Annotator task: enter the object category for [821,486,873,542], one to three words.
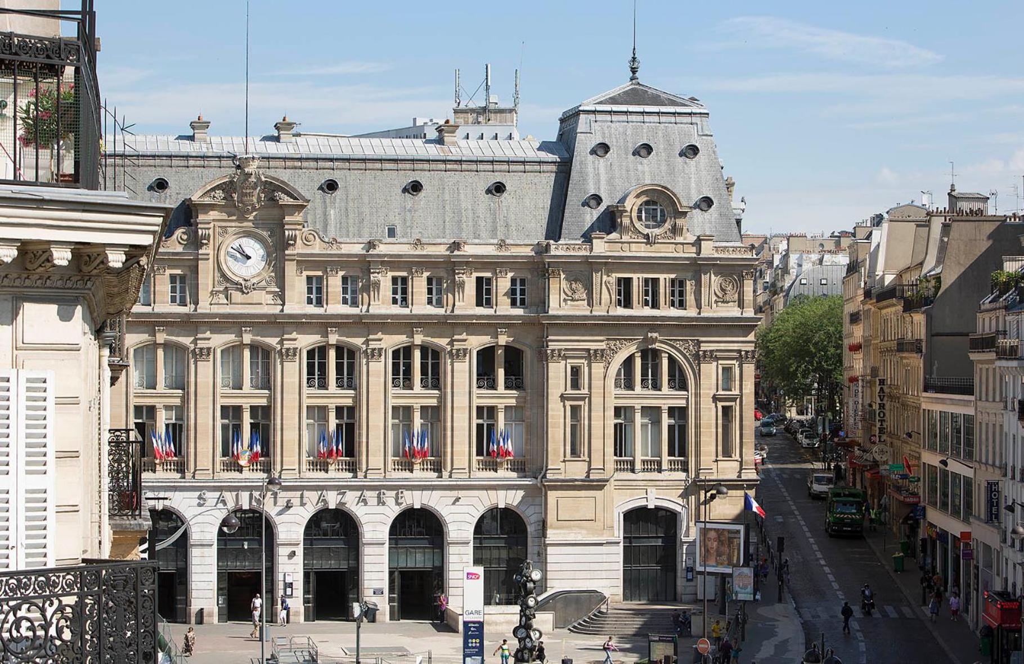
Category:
truck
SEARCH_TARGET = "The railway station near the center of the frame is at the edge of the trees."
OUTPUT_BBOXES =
[97,0,762,626]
